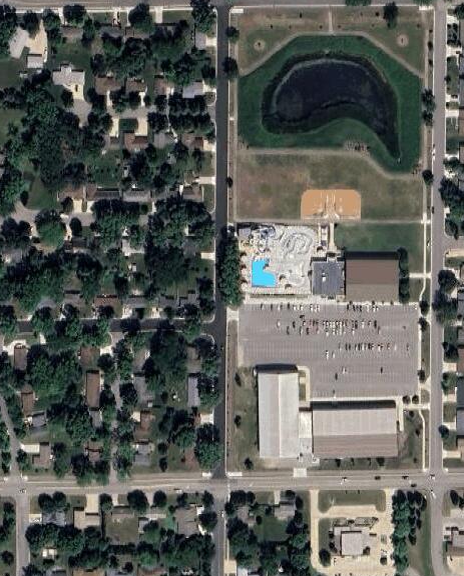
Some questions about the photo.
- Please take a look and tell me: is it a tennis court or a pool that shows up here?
pool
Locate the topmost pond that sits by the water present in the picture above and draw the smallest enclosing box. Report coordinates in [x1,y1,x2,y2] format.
[272,59,399,154]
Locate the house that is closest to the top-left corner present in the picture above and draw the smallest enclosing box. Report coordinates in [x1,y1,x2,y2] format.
[11,28,27,54]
